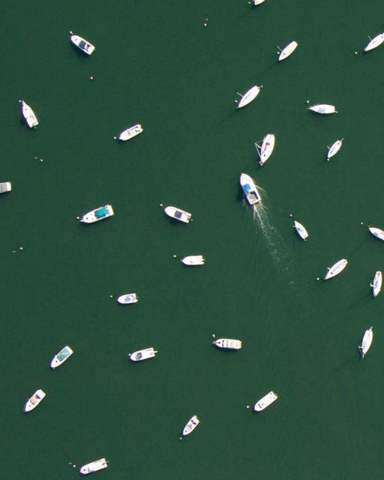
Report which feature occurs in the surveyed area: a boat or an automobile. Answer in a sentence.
Of the two, only a boat appears.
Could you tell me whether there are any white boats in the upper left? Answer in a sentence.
Yes, there is a white boat in the upper left.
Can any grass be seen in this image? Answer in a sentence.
No, the picture contains no grass.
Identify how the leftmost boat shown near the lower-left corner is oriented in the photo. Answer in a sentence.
From this overhead view, the leftmost boat shown near the lower-left corner appears to run at an angle.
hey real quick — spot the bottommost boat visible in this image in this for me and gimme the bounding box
[79,458,108,474]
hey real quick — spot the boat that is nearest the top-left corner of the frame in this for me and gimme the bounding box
[72,34,95,54]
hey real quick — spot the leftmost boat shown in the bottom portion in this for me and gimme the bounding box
[24,388,46,412]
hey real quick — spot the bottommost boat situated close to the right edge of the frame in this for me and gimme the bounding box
[360,328,373,360]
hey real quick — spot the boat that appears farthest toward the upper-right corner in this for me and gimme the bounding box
[364,32,384,51]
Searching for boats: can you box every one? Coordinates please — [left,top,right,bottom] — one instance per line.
[212,338,242,349]
[295,221,309,241]
[78,204,116,222]
[370,227,384,239]
[373,271,383,296]
[79,458,108,474]
[24,388,46,412]
[72,34,95,54]
[164,206,194,223]
[119,122,143,139]
[258,131,277,164]
[237,84,262,108]
[239,172,259,205]
[117,294,142,303]
[183,413,202,435]
[130,348,156,361]
[51,345,74,367]
[324,258,348,279]
[309,103,340,113]
[21,99,39,127]
[278,39,299,61]
[364,32,384,51]
[360,328,373,360]
[328,137,344,158]
[254,390,280,410]
[182,256,205,265]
